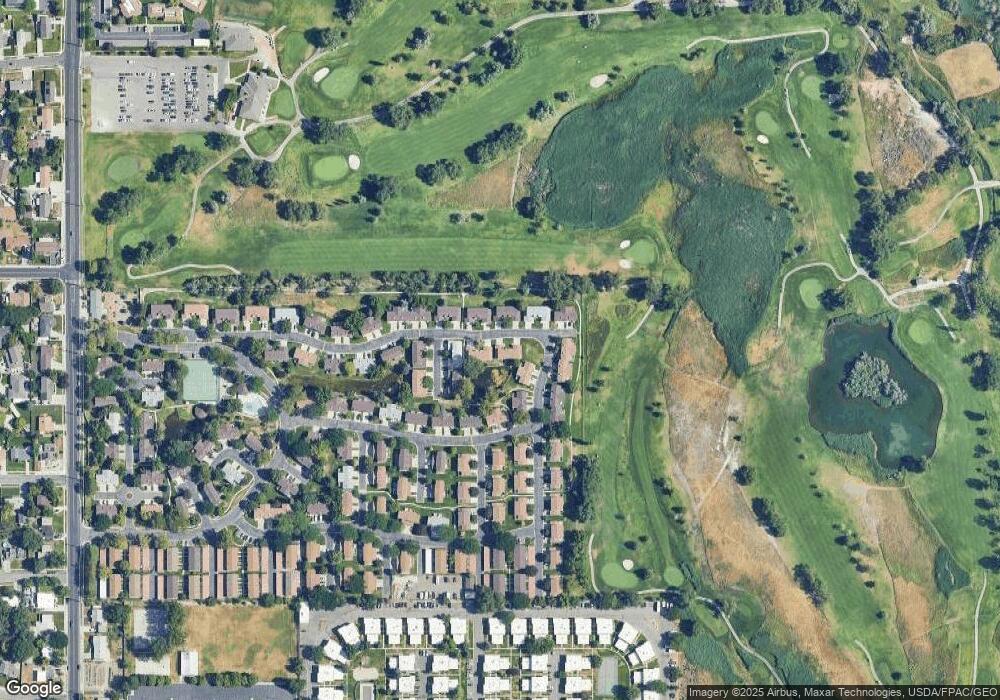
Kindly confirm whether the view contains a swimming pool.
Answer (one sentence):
Yes, this view includes a swimming pool.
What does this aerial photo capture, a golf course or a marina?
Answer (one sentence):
The area seen from above is a golf course.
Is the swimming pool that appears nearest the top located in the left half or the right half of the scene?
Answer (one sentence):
You can find the swimming pool that appears nearest the top on the left side of the picture.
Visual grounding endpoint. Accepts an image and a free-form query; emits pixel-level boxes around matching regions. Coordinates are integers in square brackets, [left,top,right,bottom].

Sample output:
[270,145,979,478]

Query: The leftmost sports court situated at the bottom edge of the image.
[134,608,170,676]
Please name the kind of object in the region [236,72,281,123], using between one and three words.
building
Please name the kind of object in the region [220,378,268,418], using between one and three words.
swimming pool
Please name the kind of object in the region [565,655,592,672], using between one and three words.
house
